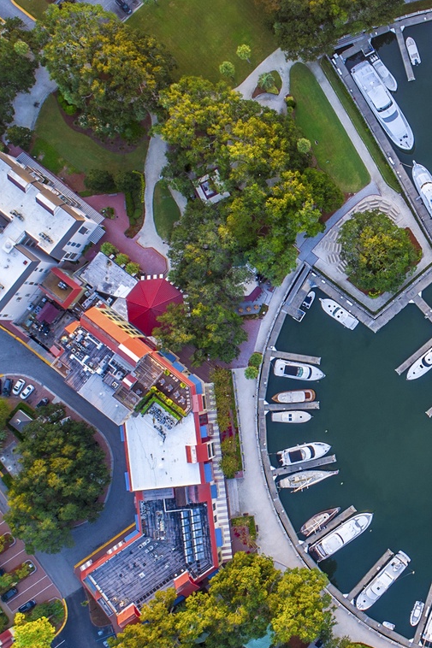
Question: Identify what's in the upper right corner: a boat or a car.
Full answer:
What appears in the upper right corner is a boat.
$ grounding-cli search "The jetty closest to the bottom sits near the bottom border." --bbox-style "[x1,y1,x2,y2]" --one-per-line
[409,584,432,648]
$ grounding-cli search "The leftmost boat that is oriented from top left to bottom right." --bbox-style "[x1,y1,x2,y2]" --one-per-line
[317,298,359,330]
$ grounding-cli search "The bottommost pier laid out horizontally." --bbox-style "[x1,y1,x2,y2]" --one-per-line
[271,454,338,480]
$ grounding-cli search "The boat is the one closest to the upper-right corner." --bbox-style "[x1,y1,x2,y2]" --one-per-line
[407,36,420,65]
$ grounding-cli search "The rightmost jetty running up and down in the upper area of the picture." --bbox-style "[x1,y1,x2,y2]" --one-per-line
[391,25,415,82]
